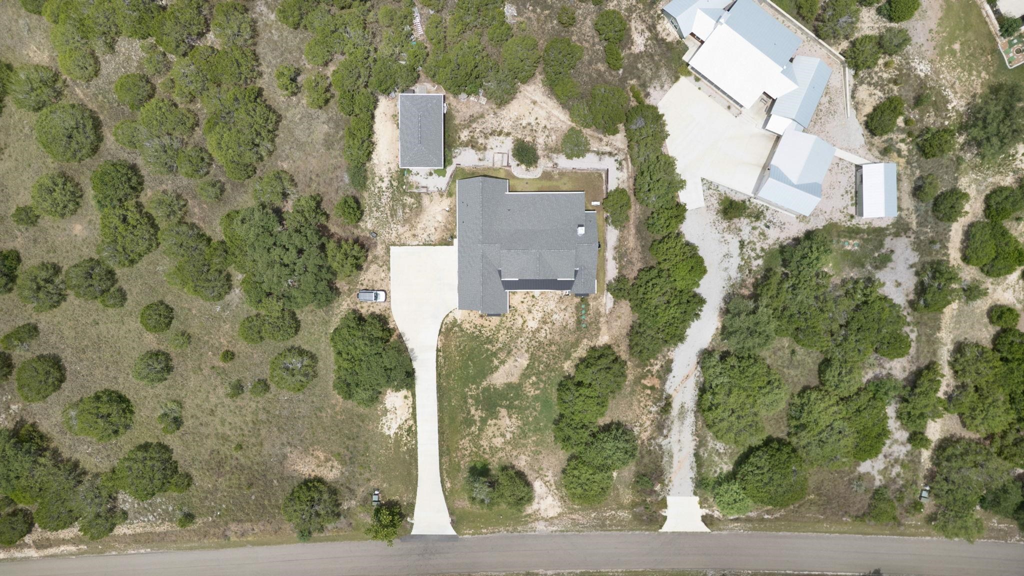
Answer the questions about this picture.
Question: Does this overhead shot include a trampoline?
No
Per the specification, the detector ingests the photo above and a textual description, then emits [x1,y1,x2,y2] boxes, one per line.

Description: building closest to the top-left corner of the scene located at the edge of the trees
[399,93,444,169]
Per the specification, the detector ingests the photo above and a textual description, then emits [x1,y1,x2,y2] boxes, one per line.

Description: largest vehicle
[357,289,385,302]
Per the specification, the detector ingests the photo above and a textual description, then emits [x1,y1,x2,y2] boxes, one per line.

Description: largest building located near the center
[456,177,598,316]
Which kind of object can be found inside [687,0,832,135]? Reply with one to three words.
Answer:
house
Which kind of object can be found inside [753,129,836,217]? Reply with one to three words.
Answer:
building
